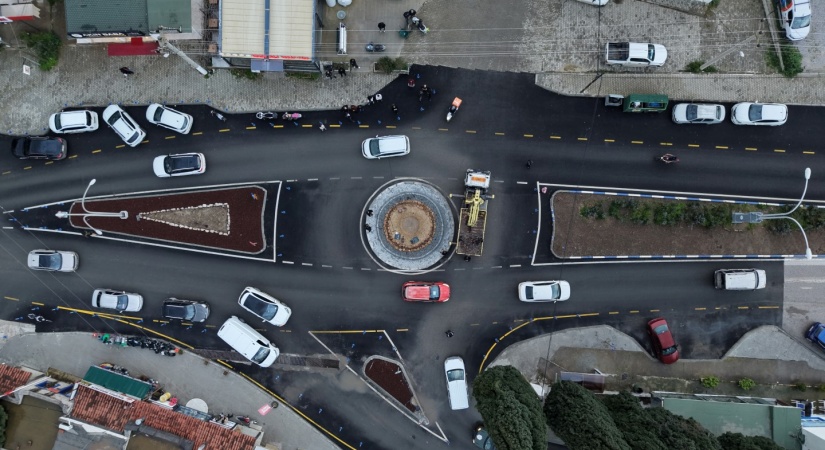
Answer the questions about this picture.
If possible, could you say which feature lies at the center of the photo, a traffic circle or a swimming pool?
traffic circle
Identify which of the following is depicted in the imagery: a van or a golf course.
van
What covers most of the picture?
paved ground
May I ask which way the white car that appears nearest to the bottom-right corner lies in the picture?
from left to right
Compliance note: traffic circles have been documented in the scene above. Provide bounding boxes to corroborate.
[361,177,458,275]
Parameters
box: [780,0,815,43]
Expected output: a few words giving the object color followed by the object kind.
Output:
white van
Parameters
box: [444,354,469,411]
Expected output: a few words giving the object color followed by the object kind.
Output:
white car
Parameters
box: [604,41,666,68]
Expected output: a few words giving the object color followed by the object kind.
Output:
white truck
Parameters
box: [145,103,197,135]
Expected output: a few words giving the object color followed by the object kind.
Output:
white car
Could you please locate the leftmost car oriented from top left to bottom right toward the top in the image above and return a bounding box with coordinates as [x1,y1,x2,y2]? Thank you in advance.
[104,103,149,149]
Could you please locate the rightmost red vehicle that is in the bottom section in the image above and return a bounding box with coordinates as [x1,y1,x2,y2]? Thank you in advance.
[646,315,679,365]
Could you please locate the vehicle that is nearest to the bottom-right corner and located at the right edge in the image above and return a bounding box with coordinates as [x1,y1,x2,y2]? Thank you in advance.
[805,319,825,350]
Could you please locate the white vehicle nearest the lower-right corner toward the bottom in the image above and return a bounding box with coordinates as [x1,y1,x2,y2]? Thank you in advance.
[713,268,765,291]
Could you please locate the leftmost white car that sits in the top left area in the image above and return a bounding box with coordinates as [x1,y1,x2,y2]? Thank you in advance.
[50,109,102,133]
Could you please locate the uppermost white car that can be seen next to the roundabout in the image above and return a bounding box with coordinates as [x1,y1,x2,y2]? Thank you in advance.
[361,135,411,159]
